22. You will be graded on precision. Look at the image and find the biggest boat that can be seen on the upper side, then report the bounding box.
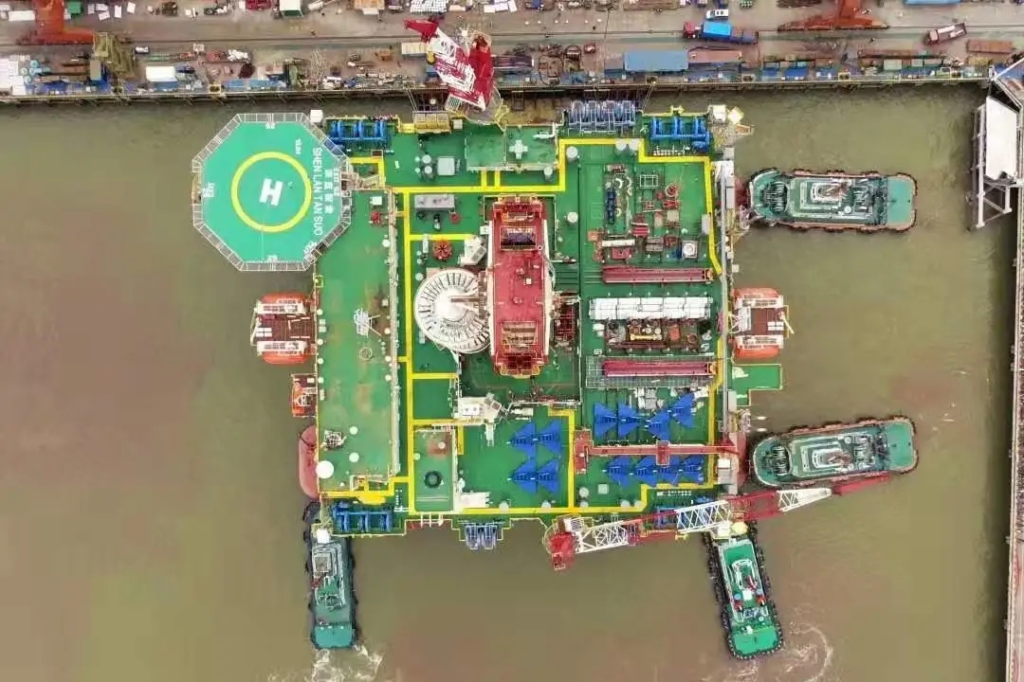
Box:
[745,167,919,234]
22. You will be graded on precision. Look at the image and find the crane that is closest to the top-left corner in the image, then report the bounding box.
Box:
[26,0,93,40]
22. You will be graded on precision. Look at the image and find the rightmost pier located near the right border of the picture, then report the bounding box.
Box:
[994,80,1024,682]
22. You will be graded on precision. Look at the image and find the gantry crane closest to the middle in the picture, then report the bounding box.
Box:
[573,426,739,474]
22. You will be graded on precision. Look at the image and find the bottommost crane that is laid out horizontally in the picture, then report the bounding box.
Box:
[542,474,896,569]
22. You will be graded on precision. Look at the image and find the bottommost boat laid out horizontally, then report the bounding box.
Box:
[747,413,920,487]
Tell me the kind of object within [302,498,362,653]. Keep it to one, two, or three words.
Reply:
boat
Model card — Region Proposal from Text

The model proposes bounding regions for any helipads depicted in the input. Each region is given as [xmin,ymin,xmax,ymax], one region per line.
[191,112,377,271]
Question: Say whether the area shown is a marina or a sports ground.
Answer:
marina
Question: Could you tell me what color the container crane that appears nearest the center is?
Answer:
red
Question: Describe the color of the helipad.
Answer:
green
